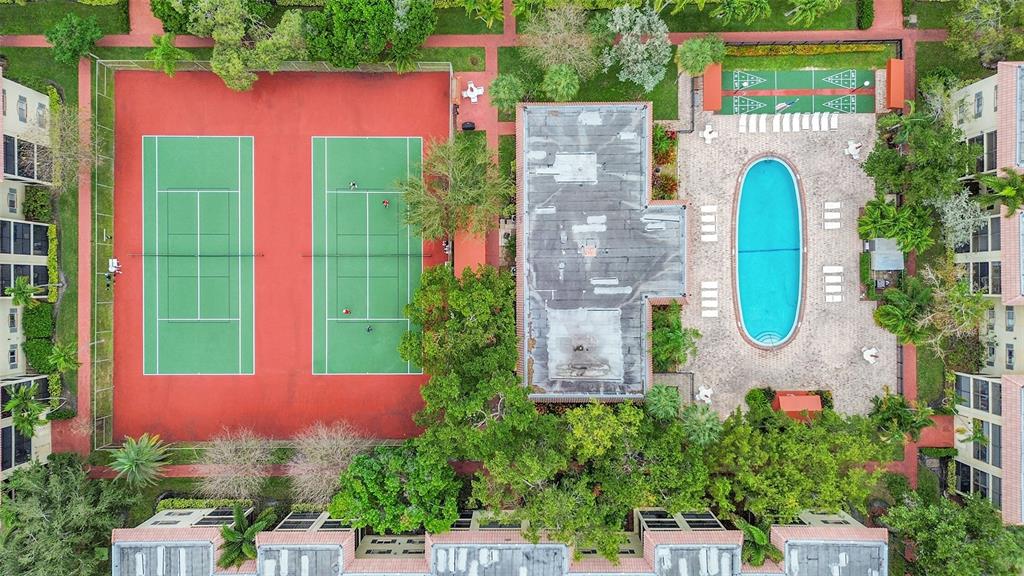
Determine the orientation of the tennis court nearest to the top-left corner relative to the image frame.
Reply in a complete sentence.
I'd say the tennis court nearest to the top-left corner is aligned up and down in the picture.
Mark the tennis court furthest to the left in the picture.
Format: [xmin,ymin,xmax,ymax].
[143,136,253,375]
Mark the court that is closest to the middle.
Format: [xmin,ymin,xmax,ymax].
[312,136,422,375]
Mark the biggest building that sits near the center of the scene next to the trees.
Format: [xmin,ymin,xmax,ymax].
[516,103,690,402]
